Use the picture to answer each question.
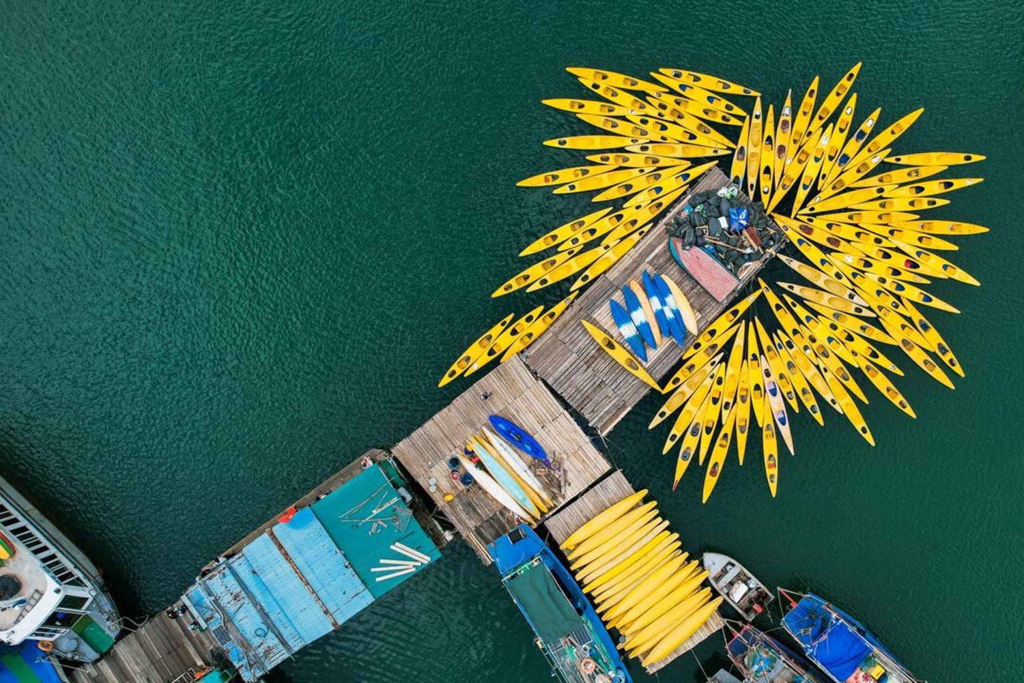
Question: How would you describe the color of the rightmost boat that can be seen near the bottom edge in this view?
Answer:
blue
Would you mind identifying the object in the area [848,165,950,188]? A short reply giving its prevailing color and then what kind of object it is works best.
yellow boat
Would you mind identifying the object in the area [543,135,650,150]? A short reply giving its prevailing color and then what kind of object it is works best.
yellow boat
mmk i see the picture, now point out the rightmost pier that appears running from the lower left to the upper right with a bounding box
[525,168,787,435]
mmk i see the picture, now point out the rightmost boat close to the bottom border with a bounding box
[778,587,920,683]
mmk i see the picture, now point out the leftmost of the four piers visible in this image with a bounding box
[68,447,444,683]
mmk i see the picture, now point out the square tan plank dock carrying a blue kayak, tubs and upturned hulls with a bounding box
[392,356,610,565]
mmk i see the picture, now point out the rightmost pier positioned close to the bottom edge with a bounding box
[546,470,723,673]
